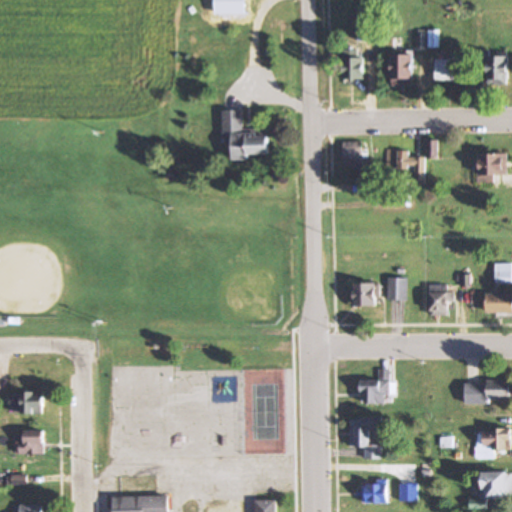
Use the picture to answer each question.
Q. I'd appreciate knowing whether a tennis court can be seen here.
Yes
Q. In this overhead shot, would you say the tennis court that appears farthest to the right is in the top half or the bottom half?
bottom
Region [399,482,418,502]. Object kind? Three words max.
building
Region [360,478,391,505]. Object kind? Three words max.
house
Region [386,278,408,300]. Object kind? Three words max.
building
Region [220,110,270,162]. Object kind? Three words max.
house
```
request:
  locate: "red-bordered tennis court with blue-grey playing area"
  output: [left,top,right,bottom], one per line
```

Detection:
[246,370,284,454]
